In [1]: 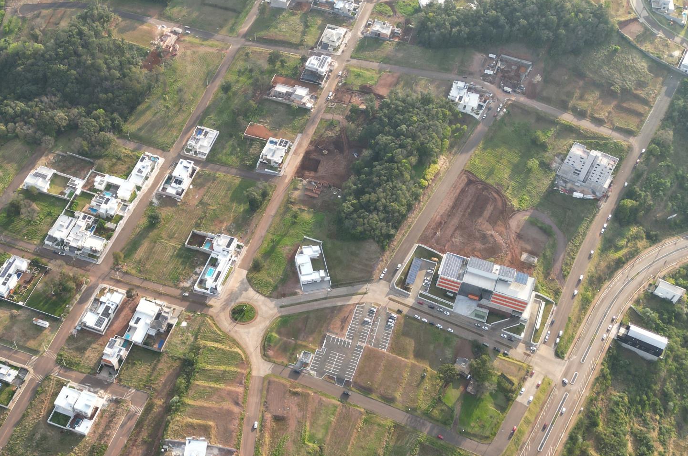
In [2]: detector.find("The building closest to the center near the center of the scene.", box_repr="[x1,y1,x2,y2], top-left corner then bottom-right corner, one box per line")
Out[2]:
[296,245,325,290]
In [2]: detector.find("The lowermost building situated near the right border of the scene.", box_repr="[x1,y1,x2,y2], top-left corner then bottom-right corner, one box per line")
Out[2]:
[609,324,666,365]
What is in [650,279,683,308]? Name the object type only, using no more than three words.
building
